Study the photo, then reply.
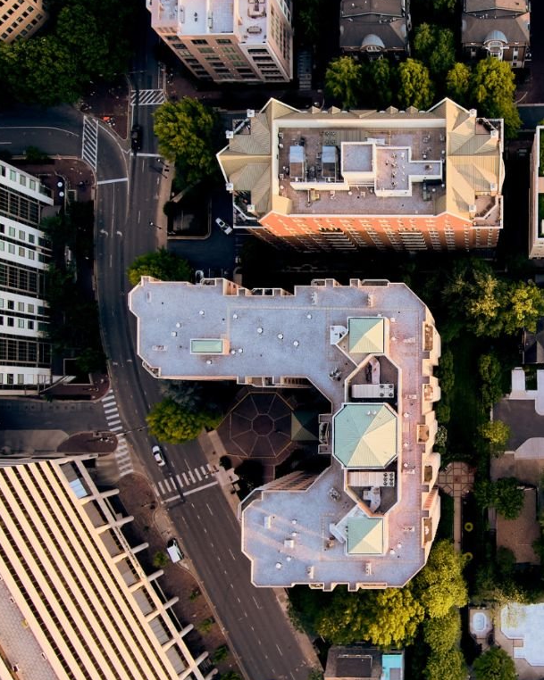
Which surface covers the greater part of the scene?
buildings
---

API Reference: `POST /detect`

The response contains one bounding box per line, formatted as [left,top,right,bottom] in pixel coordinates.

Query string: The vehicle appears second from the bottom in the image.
[150,446,164,467]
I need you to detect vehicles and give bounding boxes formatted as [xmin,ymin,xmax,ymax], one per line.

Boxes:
[162,538,182,566]
[150,446,164,467]
[214,216,232,235]
[128,122,140,146]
